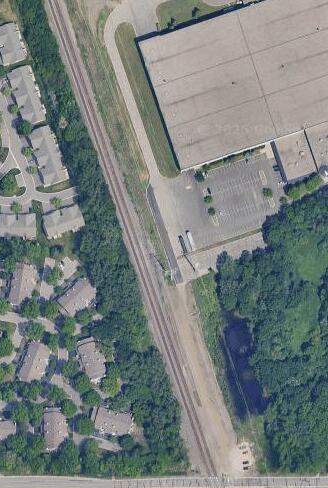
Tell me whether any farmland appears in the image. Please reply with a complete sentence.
No, there is no farmland in the image.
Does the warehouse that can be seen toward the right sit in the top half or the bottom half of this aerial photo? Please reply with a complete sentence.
The warehouse that can be seen toward the right is in the top half of the image.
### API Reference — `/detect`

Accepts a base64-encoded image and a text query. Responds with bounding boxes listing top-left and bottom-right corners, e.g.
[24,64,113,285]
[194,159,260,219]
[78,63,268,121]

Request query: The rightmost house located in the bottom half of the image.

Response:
[93,405,137,437]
